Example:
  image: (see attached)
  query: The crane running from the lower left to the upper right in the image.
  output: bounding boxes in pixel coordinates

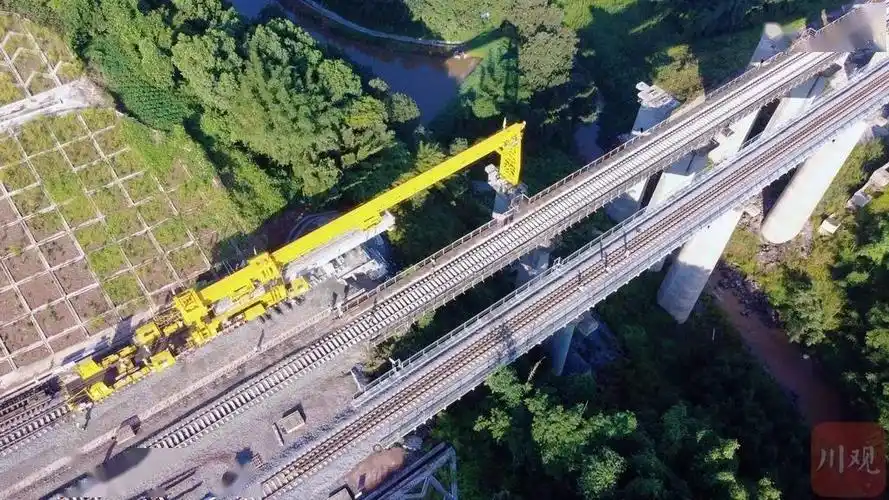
[43,114,532,422]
